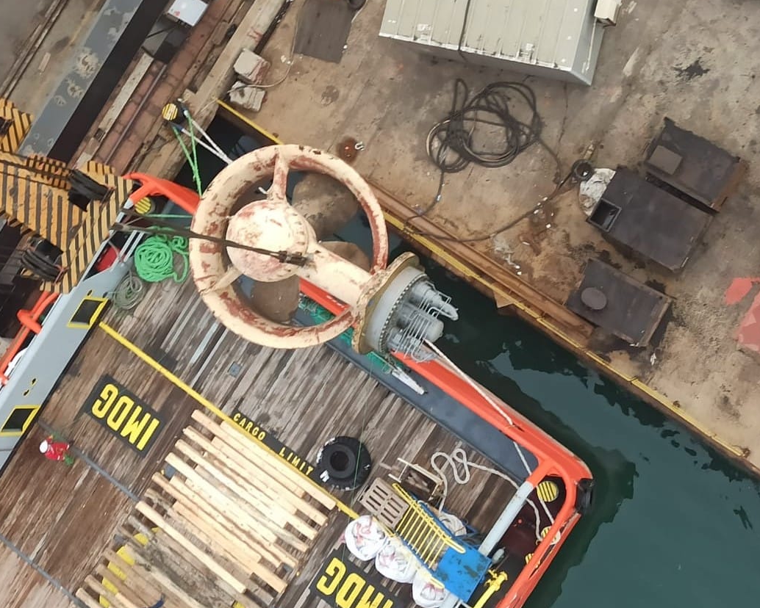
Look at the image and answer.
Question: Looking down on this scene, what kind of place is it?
industrial area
